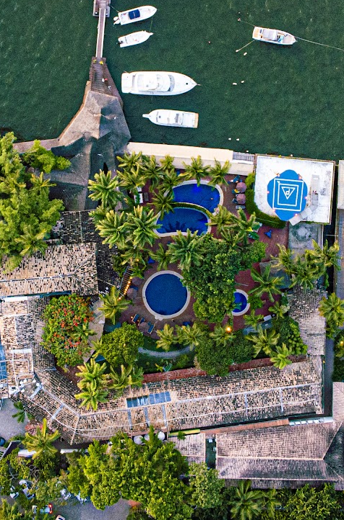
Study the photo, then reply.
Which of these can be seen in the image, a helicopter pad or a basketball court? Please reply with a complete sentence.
The one in the frame is a helicopter pad.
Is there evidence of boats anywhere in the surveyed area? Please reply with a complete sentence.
Yes, you can see a boat in this photo.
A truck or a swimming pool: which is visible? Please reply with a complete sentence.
Looking from above, you can make out a swimming pool.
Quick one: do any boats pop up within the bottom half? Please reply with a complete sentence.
No, within the bottom half there is no boat.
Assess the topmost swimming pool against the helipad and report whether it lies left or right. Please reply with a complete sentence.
Relative to the helipad, the topmost swimming pool lies to the left.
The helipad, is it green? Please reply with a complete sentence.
No, the helipad is white.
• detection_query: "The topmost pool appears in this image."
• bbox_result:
[169,180,223,213]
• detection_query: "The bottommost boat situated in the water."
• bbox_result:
[142,108,199,127]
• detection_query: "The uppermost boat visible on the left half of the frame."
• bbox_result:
[115,7,157,25]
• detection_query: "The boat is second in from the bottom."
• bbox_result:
[122,72,200,96]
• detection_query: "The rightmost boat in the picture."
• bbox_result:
[253,27,294,45]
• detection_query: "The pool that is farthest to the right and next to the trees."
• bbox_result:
[224,289,250,315]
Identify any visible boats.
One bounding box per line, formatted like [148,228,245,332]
[253,27,294,45]
[142,108,199,127]
[122,72,200,96]
[115,32,156,47]
[115,7,157,25]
